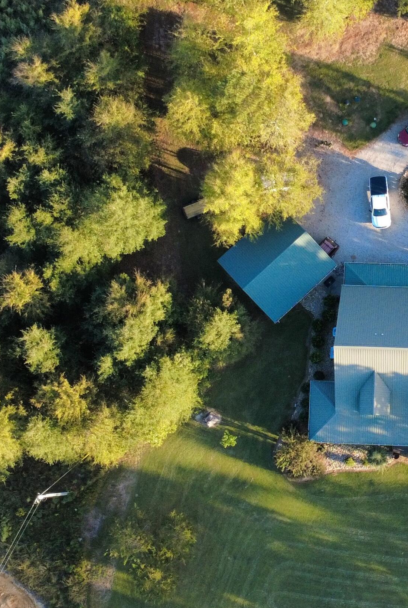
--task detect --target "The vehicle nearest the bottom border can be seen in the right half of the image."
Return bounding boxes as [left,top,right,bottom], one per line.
[320,239,338,258]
